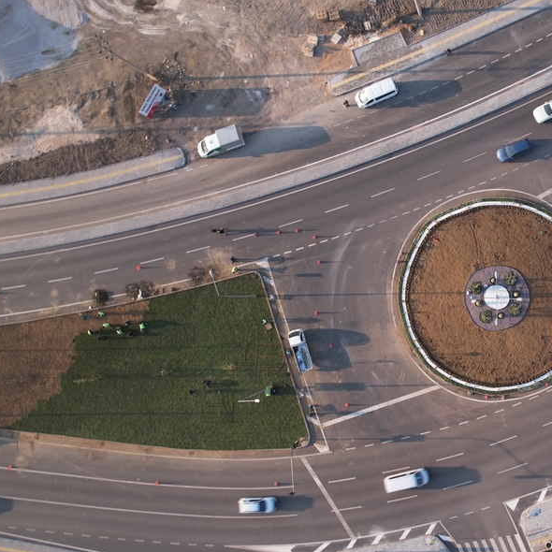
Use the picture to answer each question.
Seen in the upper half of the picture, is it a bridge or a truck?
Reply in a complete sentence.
You can see a truck in the upper half of the picture.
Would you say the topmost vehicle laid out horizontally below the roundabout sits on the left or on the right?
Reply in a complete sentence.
The topmost vehicle laid out horizontally below the roundabout sits on the right side.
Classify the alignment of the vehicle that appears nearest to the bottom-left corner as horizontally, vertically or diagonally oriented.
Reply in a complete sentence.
The vehicle that appears nearest to the bottom-left corner is laid out horizontally.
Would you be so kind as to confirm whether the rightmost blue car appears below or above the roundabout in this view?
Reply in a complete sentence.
In the image, the rightmost blue car appears above the roundabout.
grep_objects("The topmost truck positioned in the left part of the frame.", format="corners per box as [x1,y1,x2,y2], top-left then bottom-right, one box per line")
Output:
[196,120,244,156]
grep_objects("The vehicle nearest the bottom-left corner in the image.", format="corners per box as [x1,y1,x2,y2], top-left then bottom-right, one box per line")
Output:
[238,495,277,515]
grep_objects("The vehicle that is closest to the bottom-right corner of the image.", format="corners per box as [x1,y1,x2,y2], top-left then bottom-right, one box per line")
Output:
[382,465,428,493]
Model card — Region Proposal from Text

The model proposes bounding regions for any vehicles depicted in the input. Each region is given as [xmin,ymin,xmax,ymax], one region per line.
[196,120,244,156]
[355,77,401,108]
[382,465,428,493]
[285,329,312,375]
[238,495,277,515]
[495,137,532,162]
[532,101,552,124]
